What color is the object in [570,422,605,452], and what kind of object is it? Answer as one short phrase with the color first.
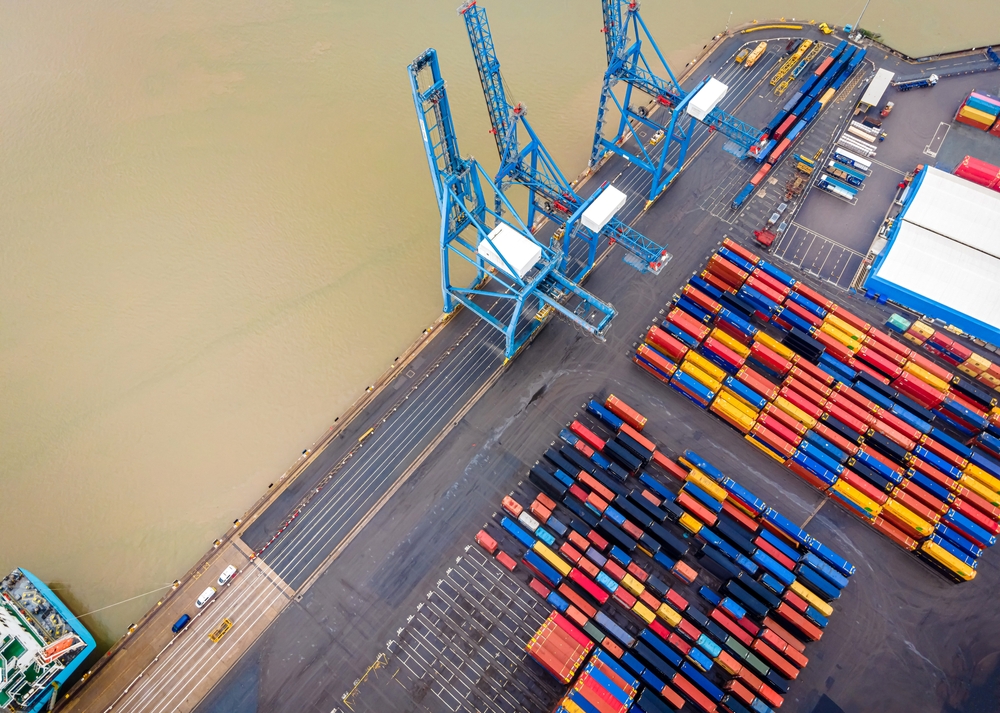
red shipping container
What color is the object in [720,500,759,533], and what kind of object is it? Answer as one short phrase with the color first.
red shipping container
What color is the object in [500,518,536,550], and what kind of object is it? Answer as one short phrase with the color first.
blue shipping container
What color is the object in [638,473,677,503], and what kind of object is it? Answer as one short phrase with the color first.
blue shipping container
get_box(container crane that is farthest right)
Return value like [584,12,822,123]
[583,0,777,208]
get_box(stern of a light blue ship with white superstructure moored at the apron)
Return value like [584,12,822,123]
[0,570,100,713]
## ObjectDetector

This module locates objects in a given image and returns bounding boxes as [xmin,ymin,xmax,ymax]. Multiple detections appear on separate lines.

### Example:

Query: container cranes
[399,42,624,367]
[583,0,777,208]
[447,0,680,304]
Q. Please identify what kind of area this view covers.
port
